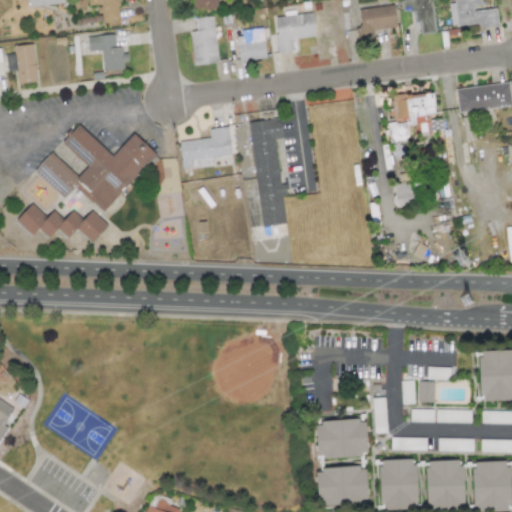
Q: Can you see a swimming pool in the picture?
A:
Yes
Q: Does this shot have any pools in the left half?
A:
No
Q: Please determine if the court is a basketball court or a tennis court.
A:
basketball court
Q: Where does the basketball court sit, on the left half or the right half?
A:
left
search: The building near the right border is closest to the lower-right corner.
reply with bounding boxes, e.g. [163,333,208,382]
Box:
[474,460,512,510]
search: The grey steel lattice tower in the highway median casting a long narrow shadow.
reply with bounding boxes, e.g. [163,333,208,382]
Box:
[458,290,477,310]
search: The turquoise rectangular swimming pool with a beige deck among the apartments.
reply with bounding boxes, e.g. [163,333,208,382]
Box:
[435,380,472,404]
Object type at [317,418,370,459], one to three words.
building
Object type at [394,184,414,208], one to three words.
house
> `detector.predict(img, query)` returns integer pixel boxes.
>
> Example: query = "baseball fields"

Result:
[214,334,278,403]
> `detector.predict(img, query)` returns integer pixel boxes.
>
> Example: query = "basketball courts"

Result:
[44,394,118,458]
